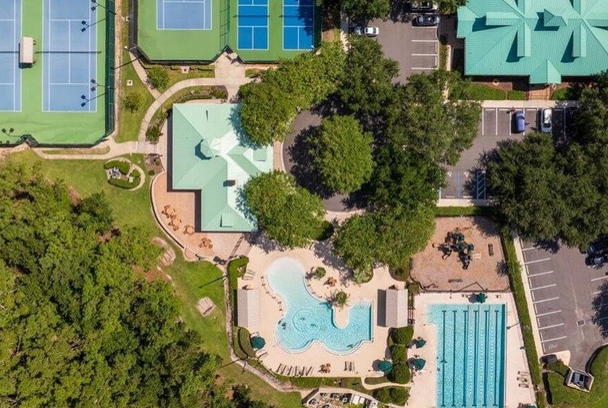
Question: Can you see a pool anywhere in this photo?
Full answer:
Yes, I can see a pool in this picture.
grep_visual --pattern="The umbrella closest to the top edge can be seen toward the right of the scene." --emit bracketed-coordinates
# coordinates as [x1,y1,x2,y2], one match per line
[473,290,487,304]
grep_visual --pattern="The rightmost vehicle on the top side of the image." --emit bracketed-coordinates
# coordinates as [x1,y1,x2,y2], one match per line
[541,108,554,133]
